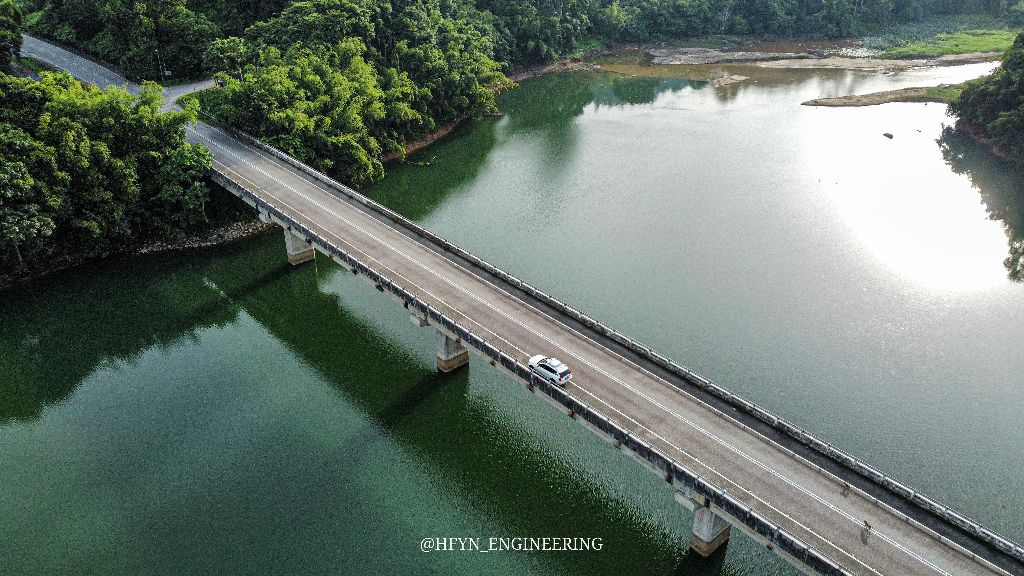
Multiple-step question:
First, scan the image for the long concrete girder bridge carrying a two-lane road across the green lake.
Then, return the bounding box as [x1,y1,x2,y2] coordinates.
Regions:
[174,124,1024,576]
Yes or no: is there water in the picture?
Yes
